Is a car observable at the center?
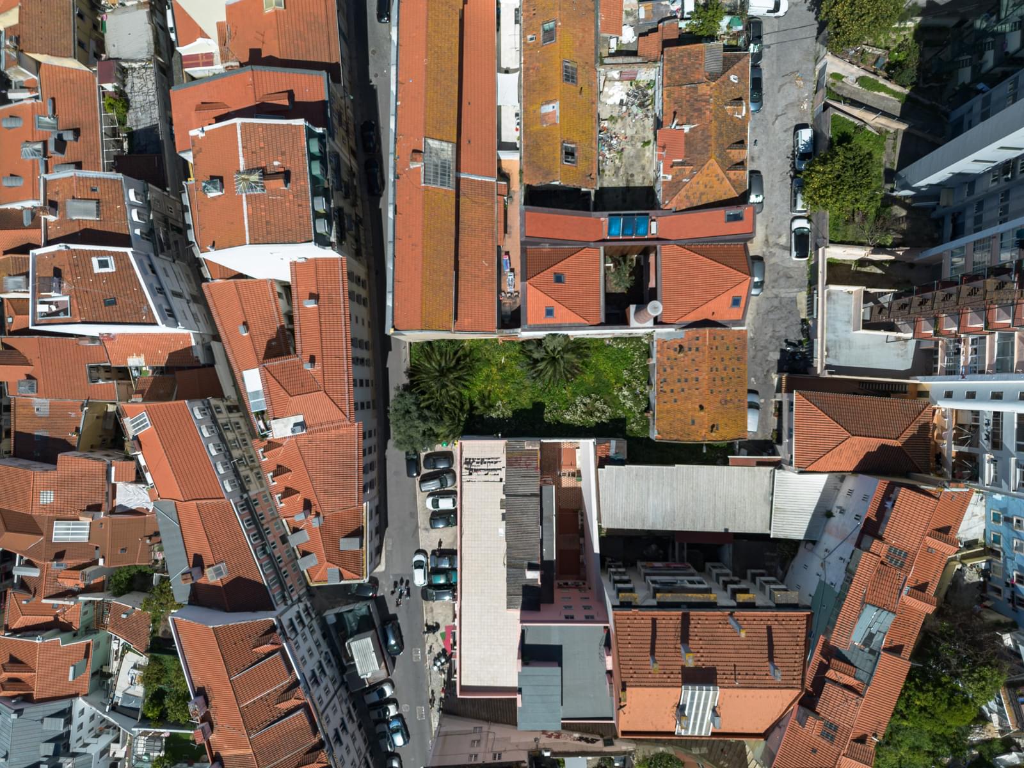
Yes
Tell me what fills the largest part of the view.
buildings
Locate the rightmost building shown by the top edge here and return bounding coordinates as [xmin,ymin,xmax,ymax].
[886,0,1024,194]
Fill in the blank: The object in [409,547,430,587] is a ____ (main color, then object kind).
white car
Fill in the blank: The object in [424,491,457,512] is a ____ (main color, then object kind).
white car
